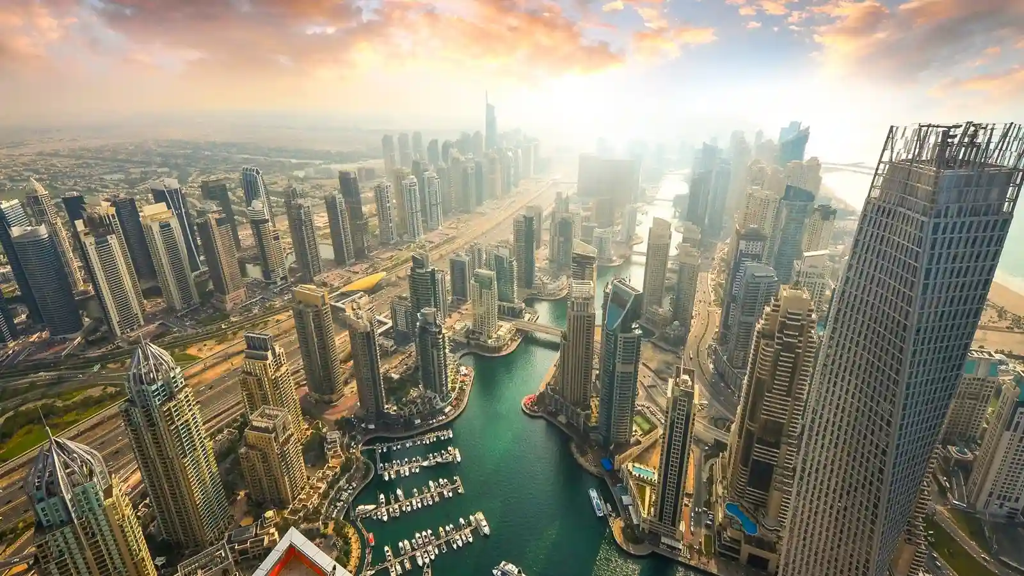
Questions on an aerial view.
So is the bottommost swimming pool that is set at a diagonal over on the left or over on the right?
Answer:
right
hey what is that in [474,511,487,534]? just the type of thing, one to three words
boat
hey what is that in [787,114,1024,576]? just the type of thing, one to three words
building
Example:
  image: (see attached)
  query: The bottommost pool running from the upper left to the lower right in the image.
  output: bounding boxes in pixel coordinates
[724,506,760,536]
